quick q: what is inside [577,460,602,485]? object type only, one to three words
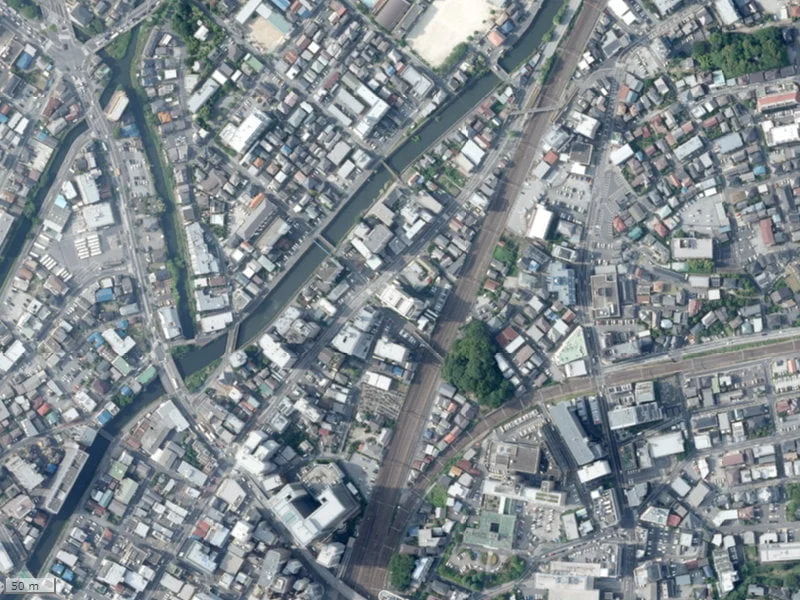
building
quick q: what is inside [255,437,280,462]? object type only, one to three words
building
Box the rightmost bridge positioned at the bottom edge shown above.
[317,563,370,600]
